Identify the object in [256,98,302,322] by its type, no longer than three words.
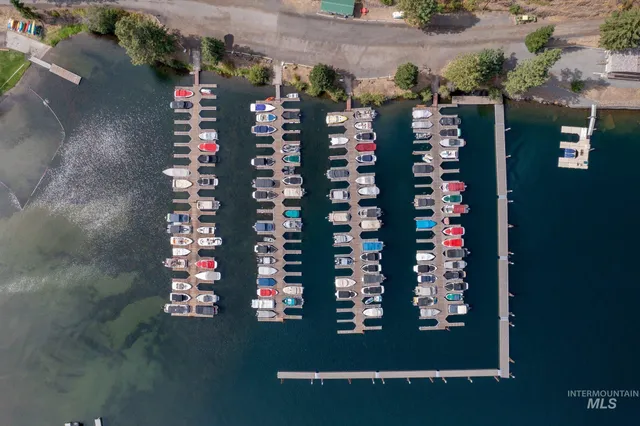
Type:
pier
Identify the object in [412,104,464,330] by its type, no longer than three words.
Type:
pier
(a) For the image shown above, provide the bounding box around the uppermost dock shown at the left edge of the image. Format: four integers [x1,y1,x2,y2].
[29,55,82,85]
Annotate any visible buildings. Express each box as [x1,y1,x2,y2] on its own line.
[321,0,356,20]
[605,51,640,74]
